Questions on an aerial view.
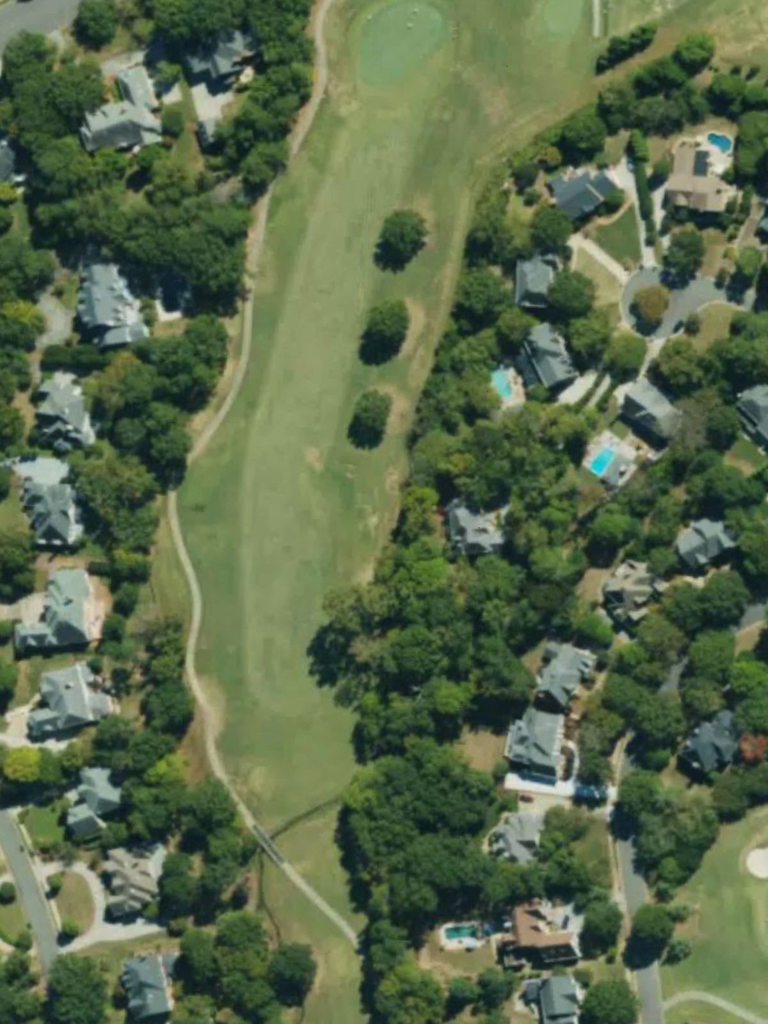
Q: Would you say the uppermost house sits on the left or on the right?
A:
left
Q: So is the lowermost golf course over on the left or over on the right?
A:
right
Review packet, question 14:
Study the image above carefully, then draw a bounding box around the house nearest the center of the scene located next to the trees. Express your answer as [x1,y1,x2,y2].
[445,502,511,558]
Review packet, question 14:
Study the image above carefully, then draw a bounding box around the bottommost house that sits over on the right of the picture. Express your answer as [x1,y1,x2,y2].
[519,971,585,1024]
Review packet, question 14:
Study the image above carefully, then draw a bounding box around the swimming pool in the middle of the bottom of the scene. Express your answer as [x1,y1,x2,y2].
[444,925,478,940]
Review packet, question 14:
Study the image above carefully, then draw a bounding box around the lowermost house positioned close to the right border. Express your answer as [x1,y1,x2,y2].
[684,708,739,775]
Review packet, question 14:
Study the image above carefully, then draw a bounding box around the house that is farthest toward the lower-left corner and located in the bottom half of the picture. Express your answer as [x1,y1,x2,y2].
[121,949,180,1022]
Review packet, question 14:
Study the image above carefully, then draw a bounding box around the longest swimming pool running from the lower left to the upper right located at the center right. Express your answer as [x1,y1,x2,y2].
[588,444,617,477]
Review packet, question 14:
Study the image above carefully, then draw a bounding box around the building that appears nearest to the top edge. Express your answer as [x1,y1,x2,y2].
[185,35,256,89]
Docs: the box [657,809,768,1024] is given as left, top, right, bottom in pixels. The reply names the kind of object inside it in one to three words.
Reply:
golf course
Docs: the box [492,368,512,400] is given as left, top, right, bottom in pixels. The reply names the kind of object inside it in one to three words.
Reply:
swimming pool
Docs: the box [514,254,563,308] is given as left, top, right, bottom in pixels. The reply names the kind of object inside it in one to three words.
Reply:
house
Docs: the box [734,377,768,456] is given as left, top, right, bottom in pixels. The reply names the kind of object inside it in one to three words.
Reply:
house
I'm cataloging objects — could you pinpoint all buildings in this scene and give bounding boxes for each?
[506,706,565,775]
[537,640,597,713]
[499,898,583,964]
[445,502,511,558]
[38,378,95,455]
[542,162,623,221]
[613,376,680,450]
[519,971,585,1024]
[12,567,94,654]
[734,377,768,456]
[61,764,127,837]
[514,254,563,308]
[23,480,85,544]
[684,708,739,775]
[673,514,735,567]
[101,839,167,918]
[185,35,256,89]
[519,315,579,391]
[664,141,730,215]
[196,119,221,147]
[605,559,668,623]
[24,661,121,731]
[121,949,180,1022]
[495,805,545,865]
[78,259,150,347]
[80,63,169,149]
